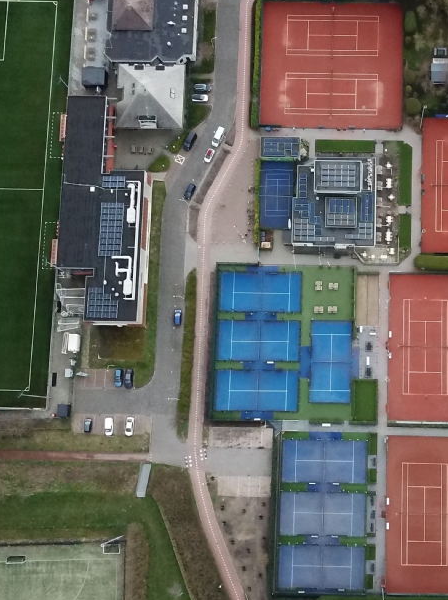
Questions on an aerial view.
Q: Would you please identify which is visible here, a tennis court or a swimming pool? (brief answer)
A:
tennis court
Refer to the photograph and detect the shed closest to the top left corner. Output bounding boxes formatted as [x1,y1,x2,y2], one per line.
[83,67,109,90]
